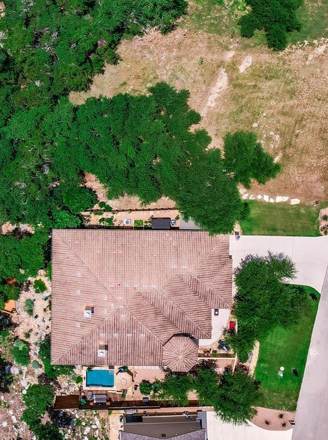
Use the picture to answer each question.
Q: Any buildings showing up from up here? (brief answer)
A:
Yes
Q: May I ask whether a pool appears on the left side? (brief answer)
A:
Yes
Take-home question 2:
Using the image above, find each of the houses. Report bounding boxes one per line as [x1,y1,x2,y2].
[50,228,233,374]
[121,412,207,440]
